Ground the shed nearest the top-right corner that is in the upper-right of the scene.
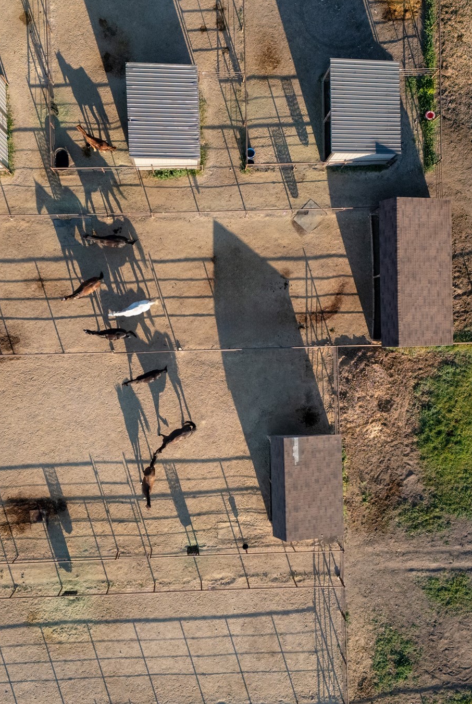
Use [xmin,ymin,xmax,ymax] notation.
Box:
[323,57,401,162]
